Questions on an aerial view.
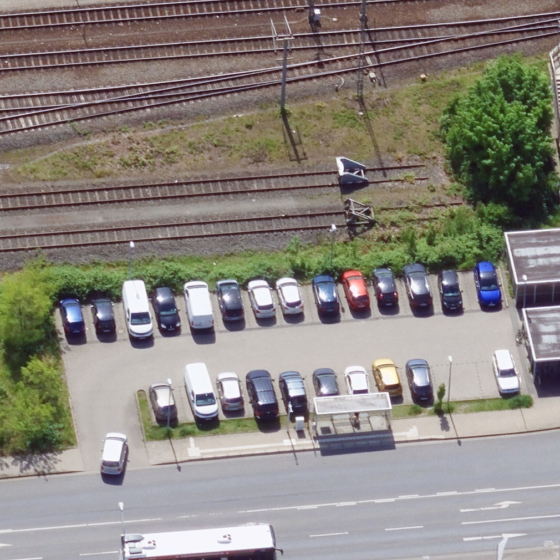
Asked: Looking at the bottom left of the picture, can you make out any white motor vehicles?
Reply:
Yes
